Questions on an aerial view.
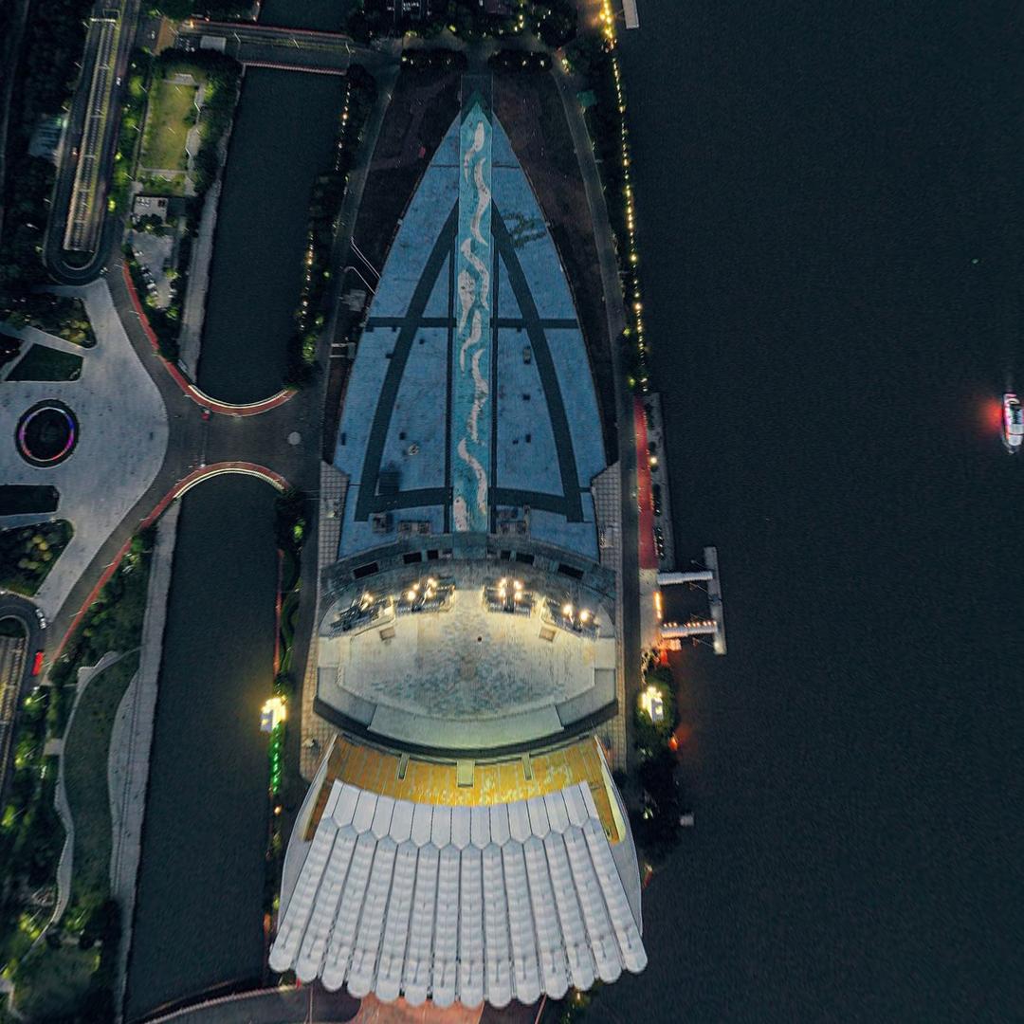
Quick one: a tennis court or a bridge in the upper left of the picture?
bridge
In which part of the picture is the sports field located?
top left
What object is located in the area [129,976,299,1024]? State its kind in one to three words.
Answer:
bridge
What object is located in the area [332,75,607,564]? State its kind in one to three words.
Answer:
building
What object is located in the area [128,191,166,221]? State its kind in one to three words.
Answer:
building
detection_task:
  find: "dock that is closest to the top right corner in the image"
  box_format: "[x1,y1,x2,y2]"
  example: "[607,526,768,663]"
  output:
[619,0,639,29]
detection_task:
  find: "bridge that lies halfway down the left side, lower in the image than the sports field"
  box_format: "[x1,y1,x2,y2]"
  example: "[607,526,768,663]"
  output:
[167,379,302,503]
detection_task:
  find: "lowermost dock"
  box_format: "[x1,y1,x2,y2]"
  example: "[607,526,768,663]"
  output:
[657,547,726,654]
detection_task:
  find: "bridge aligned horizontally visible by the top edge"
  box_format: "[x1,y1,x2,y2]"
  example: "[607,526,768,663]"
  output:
[176,17,364,77]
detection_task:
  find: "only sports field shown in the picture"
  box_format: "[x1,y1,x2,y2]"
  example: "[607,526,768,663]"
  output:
[136,63,208,194]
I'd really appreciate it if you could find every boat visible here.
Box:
[680,814,694,825]
[1002,393,1024,455]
